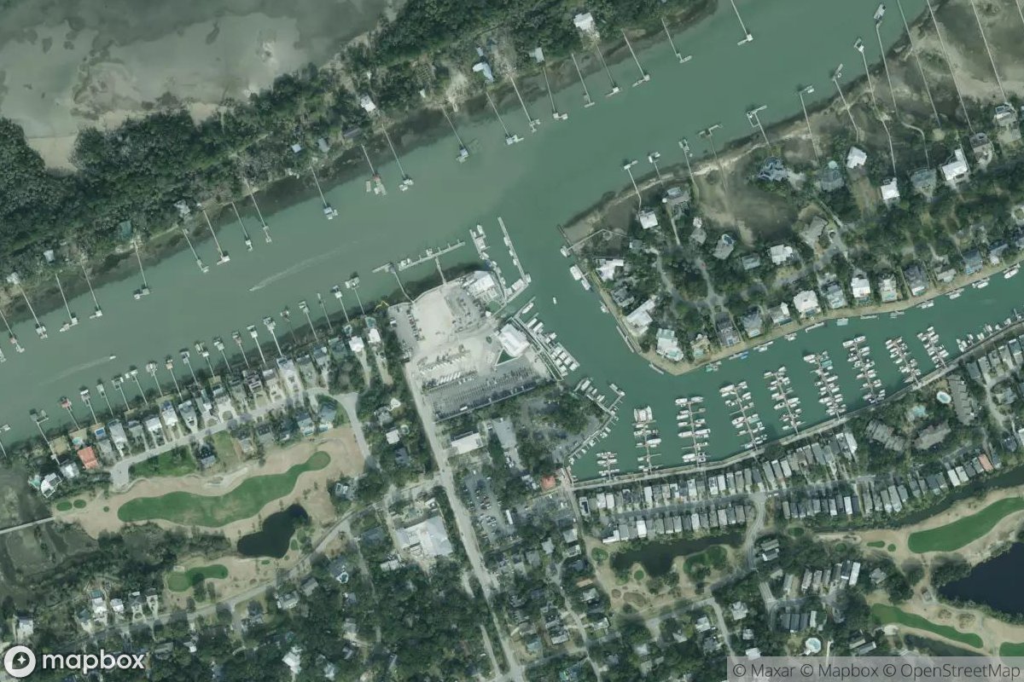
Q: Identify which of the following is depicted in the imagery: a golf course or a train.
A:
golf course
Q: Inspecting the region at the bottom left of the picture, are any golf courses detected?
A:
Yes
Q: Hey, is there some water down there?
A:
Yes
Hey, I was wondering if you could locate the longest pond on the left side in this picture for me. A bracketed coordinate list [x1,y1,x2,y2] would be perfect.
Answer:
[238,504,309,557]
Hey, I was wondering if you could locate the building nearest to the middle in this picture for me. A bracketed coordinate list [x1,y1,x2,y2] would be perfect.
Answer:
[498,324,530,357]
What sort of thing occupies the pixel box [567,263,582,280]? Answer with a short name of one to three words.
boat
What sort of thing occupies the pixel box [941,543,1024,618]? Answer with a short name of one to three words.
pond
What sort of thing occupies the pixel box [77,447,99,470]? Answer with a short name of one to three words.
house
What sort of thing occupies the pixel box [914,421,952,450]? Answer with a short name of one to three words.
building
